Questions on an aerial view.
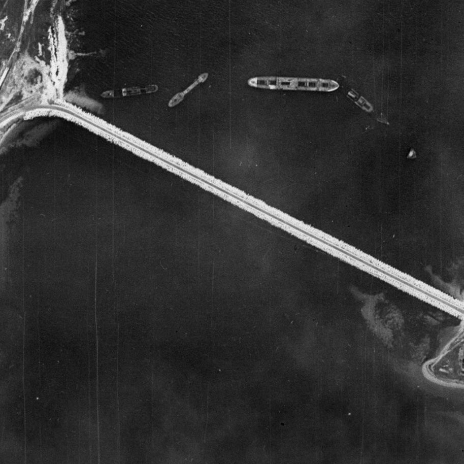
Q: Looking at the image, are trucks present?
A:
No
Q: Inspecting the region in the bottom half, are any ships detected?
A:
No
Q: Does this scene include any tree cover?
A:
No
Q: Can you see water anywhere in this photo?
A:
Yes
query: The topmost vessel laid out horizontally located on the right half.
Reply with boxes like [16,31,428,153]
[248,77,339,91]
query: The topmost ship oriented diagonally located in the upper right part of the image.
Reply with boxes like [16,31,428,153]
[347,89,374,112]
